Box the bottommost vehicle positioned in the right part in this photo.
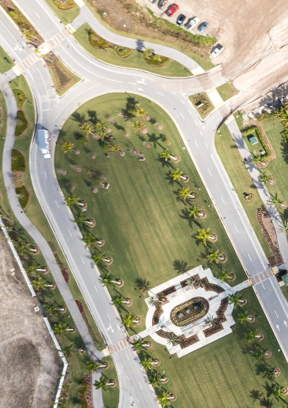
[211,43,225,57]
